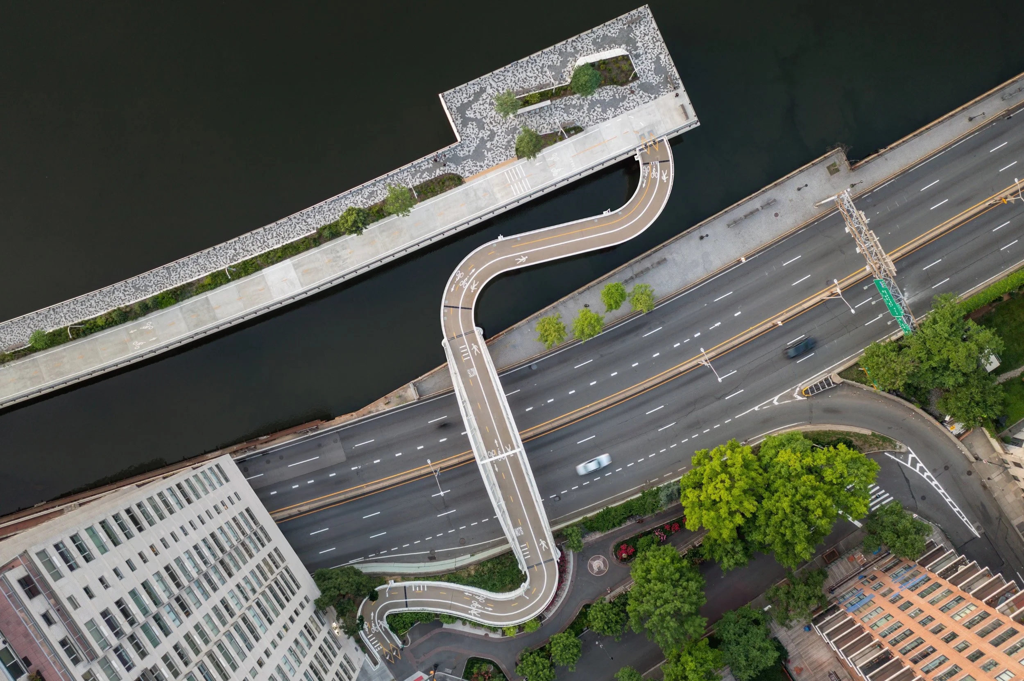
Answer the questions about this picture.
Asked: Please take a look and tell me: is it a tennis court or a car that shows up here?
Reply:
car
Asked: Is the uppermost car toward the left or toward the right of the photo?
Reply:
right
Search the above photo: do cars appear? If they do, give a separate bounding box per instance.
[577,454,611,475]
[784,335,818,358]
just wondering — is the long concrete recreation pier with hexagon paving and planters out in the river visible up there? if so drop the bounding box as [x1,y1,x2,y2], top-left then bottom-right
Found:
[0,5,699,409]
